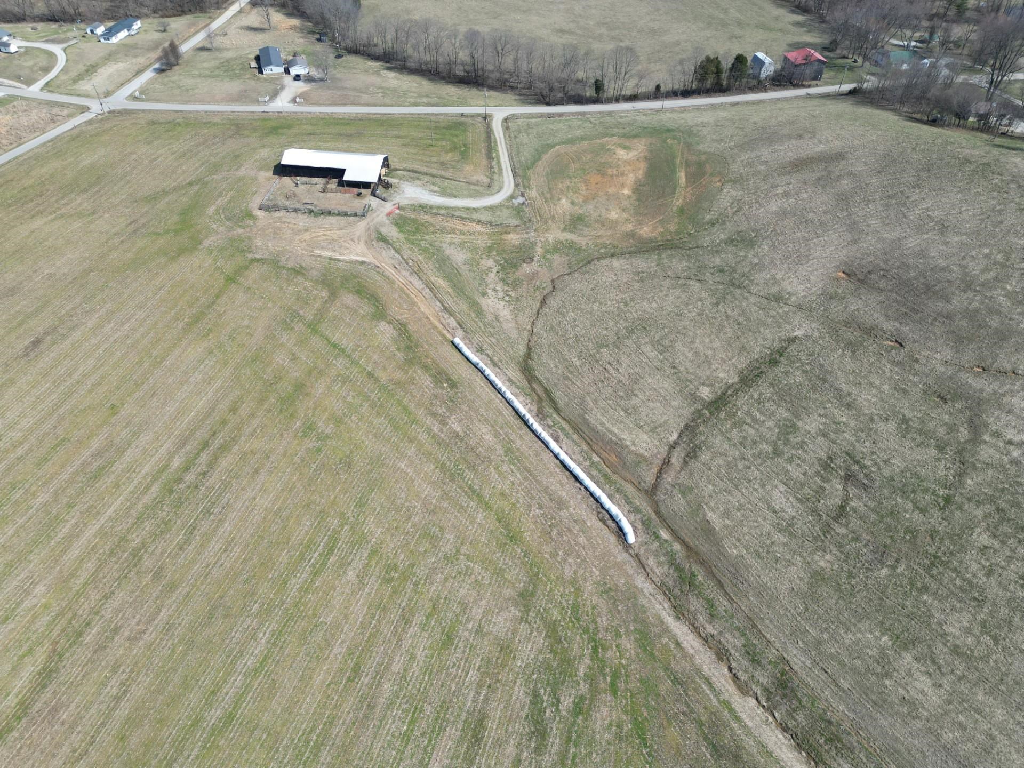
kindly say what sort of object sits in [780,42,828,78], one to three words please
barn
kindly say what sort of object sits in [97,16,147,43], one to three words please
house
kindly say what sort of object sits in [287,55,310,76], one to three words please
building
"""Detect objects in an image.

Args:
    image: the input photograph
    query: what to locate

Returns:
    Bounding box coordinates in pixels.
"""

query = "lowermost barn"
[278,147,390,190]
